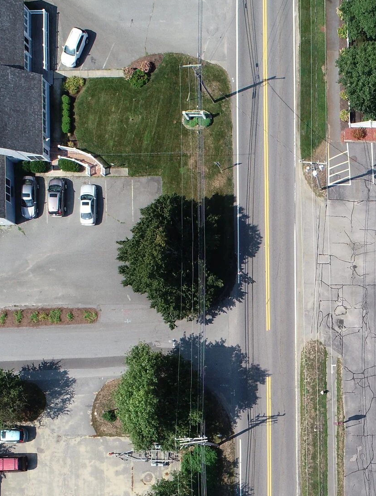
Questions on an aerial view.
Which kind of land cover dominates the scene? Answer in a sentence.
For the most part, this view shows paved ground.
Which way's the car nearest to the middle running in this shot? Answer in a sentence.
The car nearest to the middle has been laid out from top to bottom relative to the frame.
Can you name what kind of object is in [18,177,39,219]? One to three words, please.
car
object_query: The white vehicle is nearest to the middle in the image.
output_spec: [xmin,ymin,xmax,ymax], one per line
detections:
[78,184,98,225]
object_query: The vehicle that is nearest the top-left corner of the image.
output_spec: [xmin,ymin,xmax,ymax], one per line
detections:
[61,25,89,68]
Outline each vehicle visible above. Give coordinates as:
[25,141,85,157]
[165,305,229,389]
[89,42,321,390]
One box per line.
[0,428,29,443]
[78,184,98,225]
[61,25,89,68]
[18,177,39,219]
[44,179,67,218]
[0,456,28,473]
